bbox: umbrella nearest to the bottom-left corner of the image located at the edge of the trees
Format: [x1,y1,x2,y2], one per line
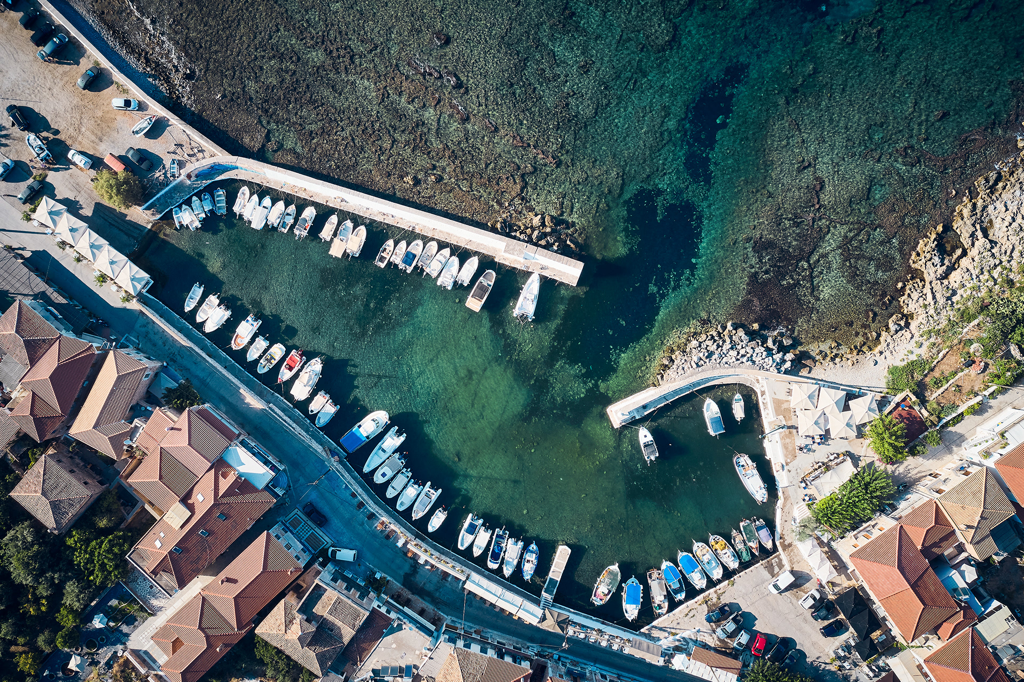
[68,649,93,672]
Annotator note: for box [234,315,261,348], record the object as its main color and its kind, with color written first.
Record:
white boat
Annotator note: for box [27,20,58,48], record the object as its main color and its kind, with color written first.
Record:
black car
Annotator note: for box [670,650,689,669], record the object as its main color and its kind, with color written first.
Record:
white umbrella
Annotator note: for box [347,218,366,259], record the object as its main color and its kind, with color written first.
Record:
white boat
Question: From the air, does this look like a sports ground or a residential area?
residential area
